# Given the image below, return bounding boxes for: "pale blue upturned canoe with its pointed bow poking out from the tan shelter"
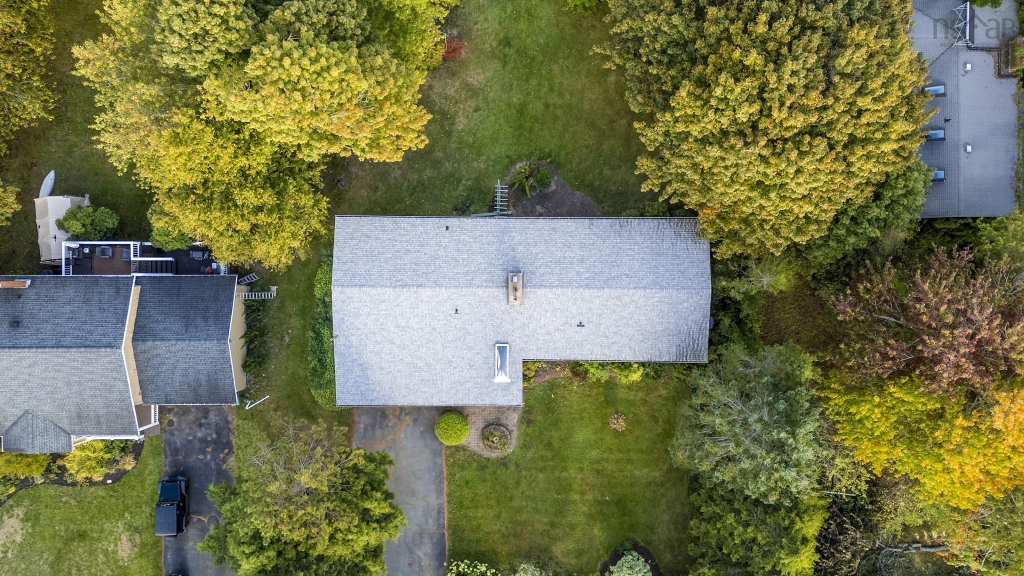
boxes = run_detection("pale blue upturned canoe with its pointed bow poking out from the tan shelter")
[42,170,59,198]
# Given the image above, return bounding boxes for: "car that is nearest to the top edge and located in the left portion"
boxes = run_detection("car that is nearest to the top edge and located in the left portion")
[154,477,192,543]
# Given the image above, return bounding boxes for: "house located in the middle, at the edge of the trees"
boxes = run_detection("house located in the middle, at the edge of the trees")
[331,215,712,407]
